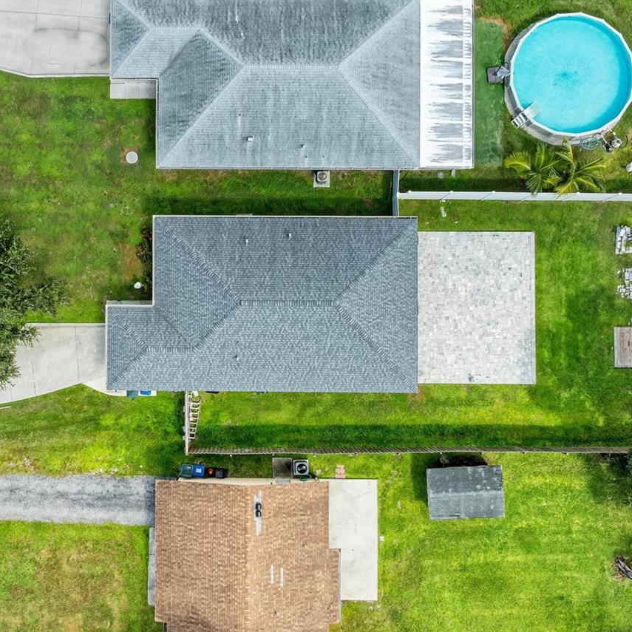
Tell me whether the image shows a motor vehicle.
No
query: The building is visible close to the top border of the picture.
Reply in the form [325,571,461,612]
[107,0,474,177]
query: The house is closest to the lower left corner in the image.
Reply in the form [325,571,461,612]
[155,478,343,632]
